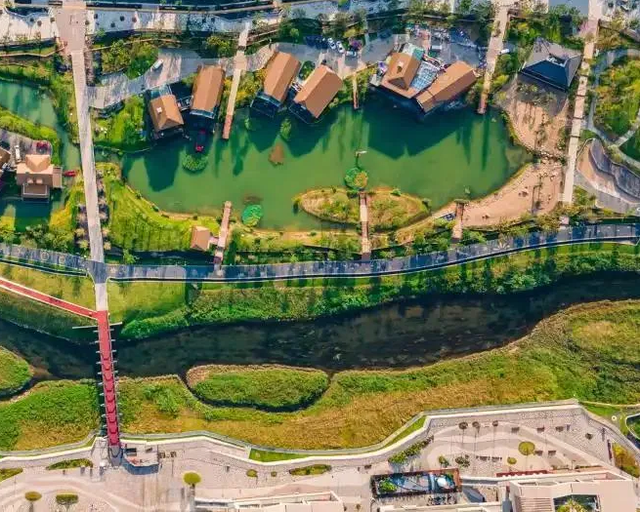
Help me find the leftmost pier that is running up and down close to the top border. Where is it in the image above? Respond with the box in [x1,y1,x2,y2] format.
[222,23,251,138]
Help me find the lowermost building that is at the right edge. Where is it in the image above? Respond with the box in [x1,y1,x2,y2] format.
[454,466,640,512]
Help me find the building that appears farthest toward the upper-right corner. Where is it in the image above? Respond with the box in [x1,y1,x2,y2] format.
[518,41,576,88]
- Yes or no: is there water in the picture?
Yes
